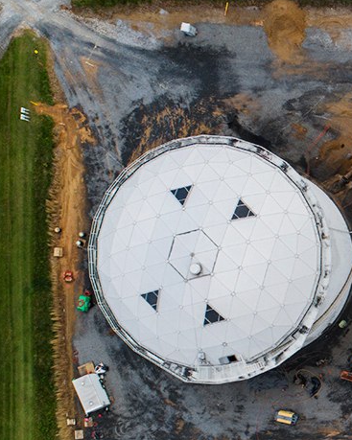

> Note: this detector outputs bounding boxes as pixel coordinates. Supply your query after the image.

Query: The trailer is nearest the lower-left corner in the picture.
[72,373,111,415]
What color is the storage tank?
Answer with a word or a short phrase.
white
